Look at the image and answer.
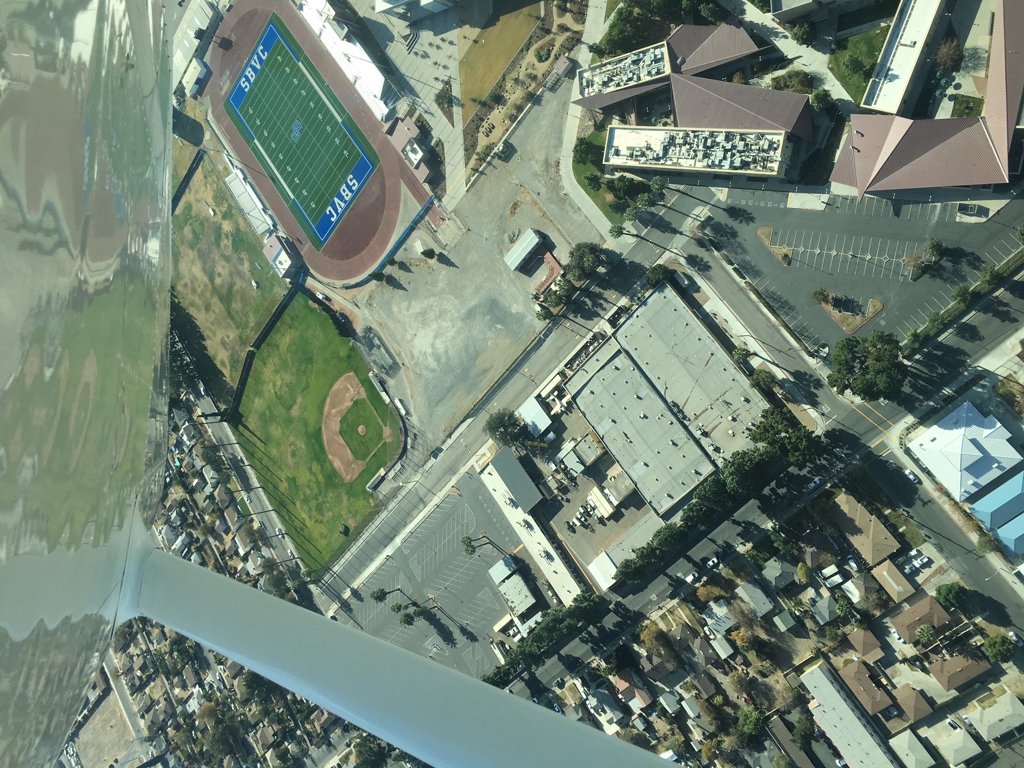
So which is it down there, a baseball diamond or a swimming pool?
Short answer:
baseball diamond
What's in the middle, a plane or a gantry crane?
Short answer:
plane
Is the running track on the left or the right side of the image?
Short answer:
left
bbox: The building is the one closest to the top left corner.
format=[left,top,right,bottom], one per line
[182,57,208,94]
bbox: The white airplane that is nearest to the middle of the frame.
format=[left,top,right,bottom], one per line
[546,393,568,414]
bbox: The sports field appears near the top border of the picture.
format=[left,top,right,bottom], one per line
[223,12,381,252]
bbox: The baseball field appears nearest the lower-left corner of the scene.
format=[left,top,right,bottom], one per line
[218,295,402,577]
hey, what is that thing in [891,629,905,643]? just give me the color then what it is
white car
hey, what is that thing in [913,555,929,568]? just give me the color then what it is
white vehicle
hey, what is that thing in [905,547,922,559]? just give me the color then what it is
white vehicle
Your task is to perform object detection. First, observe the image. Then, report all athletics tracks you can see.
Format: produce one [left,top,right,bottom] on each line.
[208,0,448,277]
